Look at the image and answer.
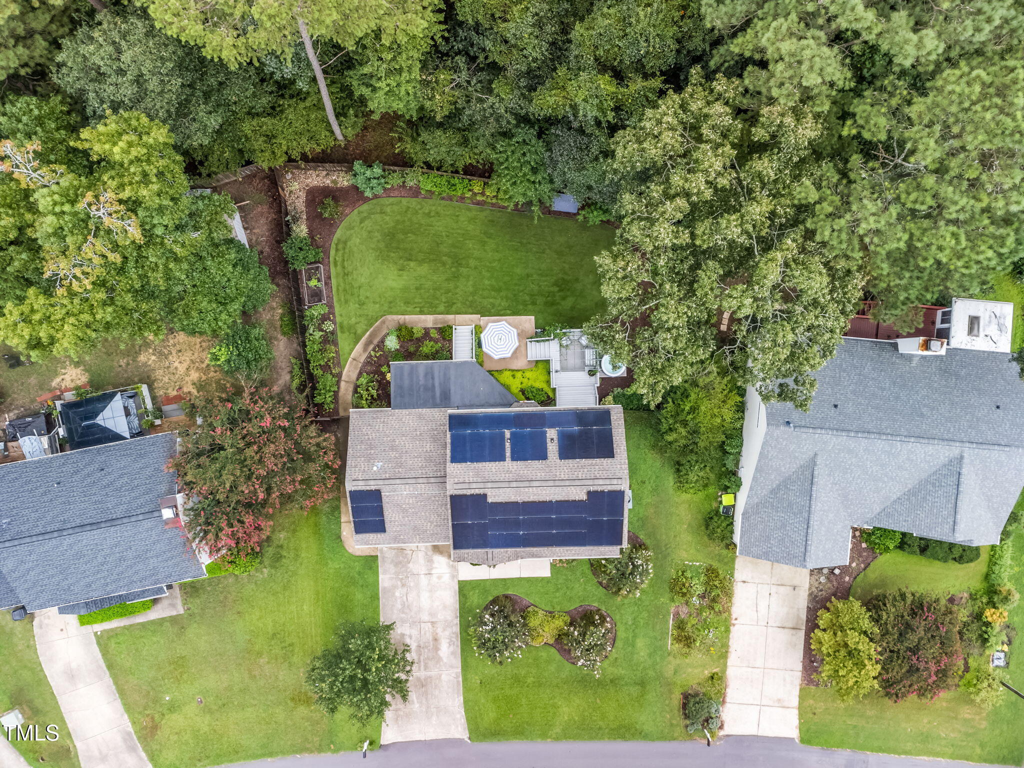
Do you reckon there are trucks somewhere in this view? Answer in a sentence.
No, no truck can be seen from above.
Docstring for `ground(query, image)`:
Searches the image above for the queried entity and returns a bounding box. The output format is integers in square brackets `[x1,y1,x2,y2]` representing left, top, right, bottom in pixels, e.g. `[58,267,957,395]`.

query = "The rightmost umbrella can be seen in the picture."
[481,321,521,361]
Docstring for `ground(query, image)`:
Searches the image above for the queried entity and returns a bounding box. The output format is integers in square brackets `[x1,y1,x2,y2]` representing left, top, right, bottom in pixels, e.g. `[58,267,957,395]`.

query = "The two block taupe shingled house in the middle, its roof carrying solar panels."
[342,357,632,572]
